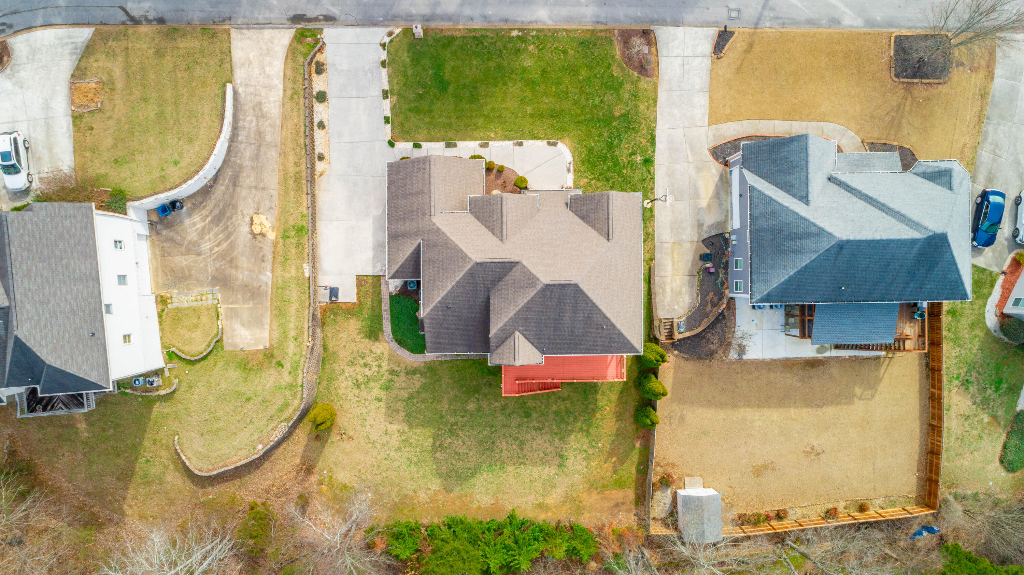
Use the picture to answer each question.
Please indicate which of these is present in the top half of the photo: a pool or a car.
car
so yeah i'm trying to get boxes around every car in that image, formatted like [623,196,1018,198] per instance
[971,192,1008,247]
[0,131,35,193]
[1014,191,1024,246]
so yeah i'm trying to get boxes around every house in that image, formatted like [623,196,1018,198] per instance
[0,199,166,396]
[726,134,973,345]
[1000,267,1024,319]
[385,155,643,366]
